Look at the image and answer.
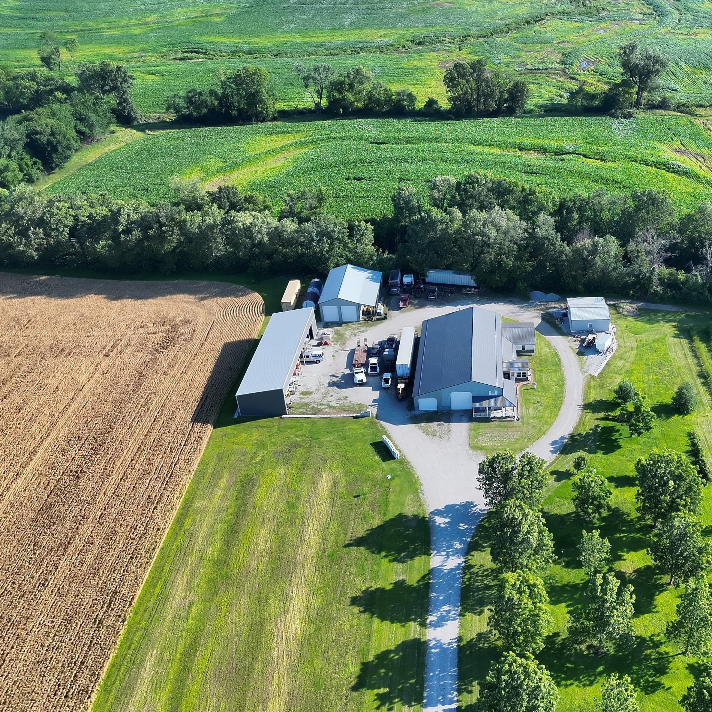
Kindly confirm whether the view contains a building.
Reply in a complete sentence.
Yes, there's a building down there.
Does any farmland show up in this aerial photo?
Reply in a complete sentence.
Yes, farmland can be seen from above here.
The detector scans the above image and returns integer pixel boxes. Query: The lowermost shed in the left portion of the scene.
[234,307,316,415]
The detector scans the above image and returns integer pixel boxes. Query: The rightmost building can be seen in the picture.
[568,298,611,332]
